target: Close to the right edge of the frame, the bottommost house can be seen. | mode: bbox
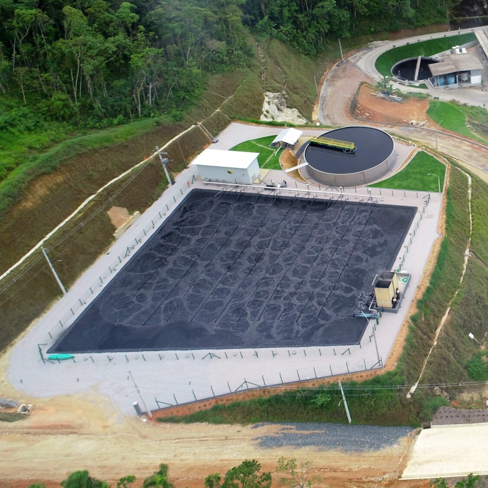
[428,53,484,89]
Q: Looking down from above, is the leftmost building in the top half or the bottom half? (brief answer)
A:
top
